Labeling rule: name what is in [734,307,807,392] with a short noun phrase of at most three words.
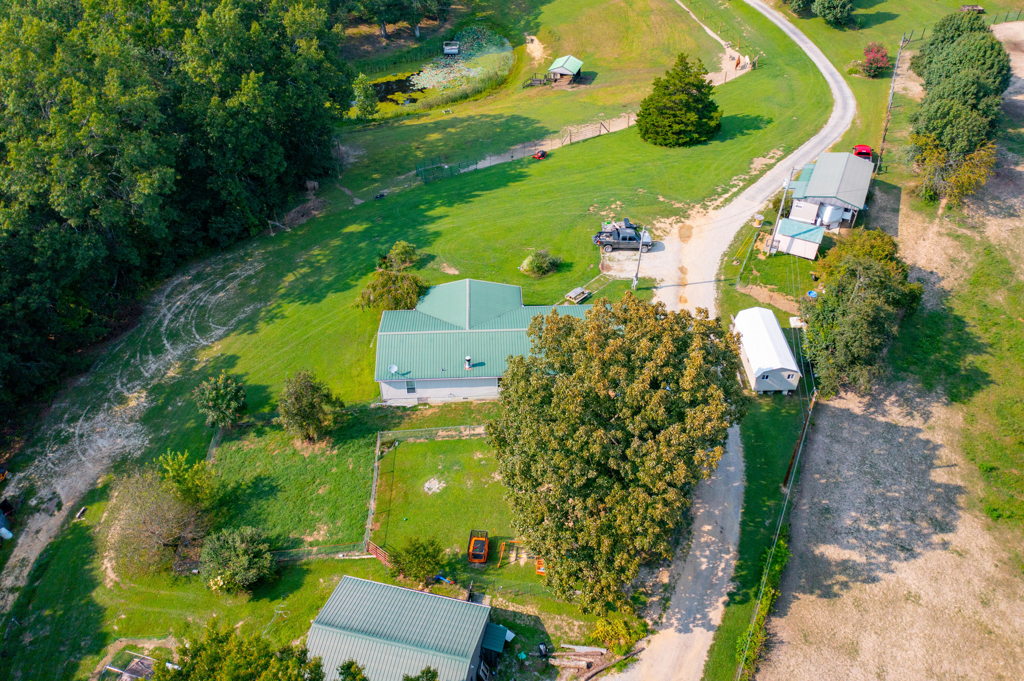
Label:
shed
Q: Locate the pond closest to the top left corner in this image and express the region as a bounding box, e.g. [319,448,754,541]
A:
[348,26,515,121]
